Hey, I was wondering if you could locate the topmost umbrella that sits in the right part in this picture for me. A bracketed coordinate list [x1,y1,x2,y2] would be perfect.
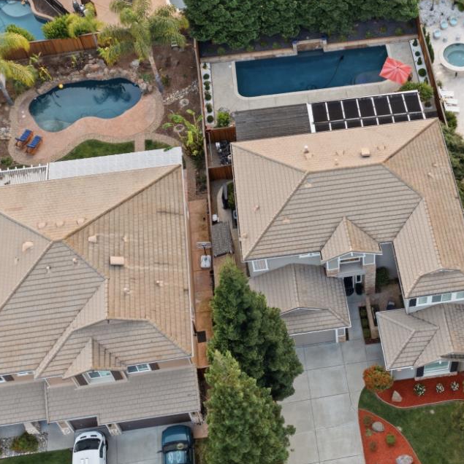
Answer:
[376,52,419,90]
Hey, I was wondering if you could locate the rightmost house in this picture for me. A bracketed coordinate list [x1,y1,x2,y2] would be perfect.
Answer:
[231,118,464,384]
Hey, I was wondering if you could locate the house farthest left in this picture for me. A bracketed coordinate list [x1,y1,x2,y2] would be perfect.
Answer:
[0,165,201,433]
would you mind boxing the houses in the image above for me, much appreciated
[231,118,464,384]
[0,165,201,433]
